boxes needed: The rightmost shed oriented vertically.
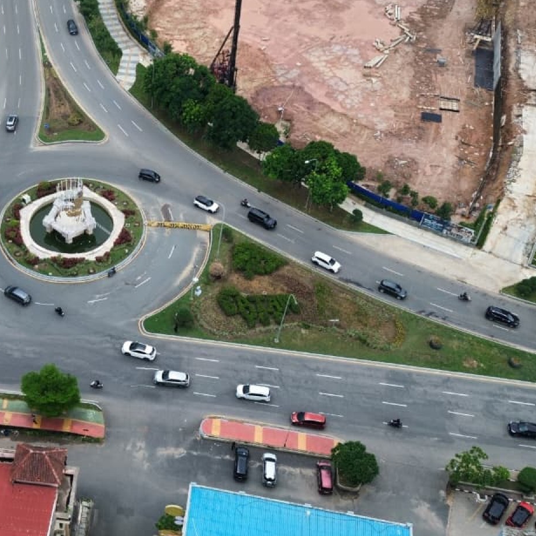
[473,42,497,97]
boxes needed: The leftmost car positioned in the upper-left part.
[5,113,20,133]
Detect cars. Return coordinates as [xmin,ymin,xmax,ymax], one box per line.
[315,459,333,496]
[1,284,35,309]
[245,205,279,230]
[289,410,328,430]
[478,490,511,529]
[483,303,522,330]
[231,446,252,486]
[135,165,163,185]
[504,497,534,531]
[66,19,78,35]
[260,451,279,491]
[309,249,342,275]
[374,277,411,302]
[234,382,272,403]
[153,367,191,389]
[121,341,158,362]
[5,113,20,133]
[503,419,536,441]
[191,193,221,215]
